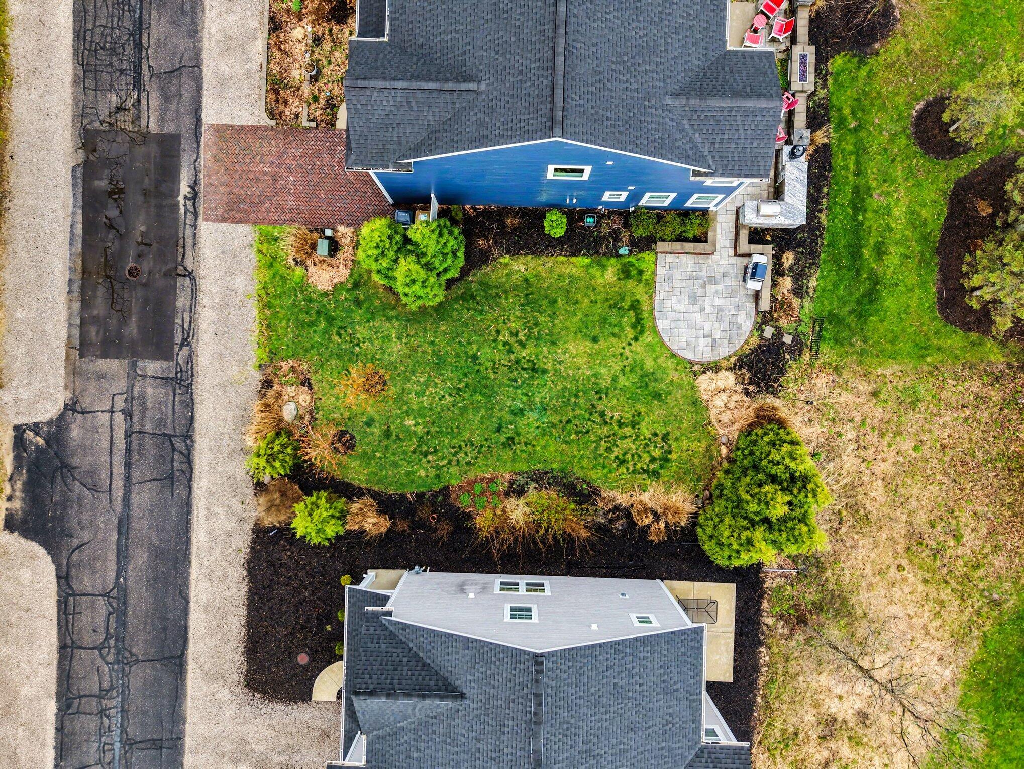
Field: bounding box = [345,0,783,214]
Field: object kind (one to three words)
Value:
house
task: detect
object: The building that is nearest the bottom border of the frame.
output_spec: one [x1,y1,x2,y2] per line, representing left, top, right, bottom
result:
[326,570,753,769]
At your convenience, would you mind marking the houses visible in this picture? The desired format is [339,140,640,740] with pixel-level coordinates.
[326,570,753,769]
[345,0,783,214]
